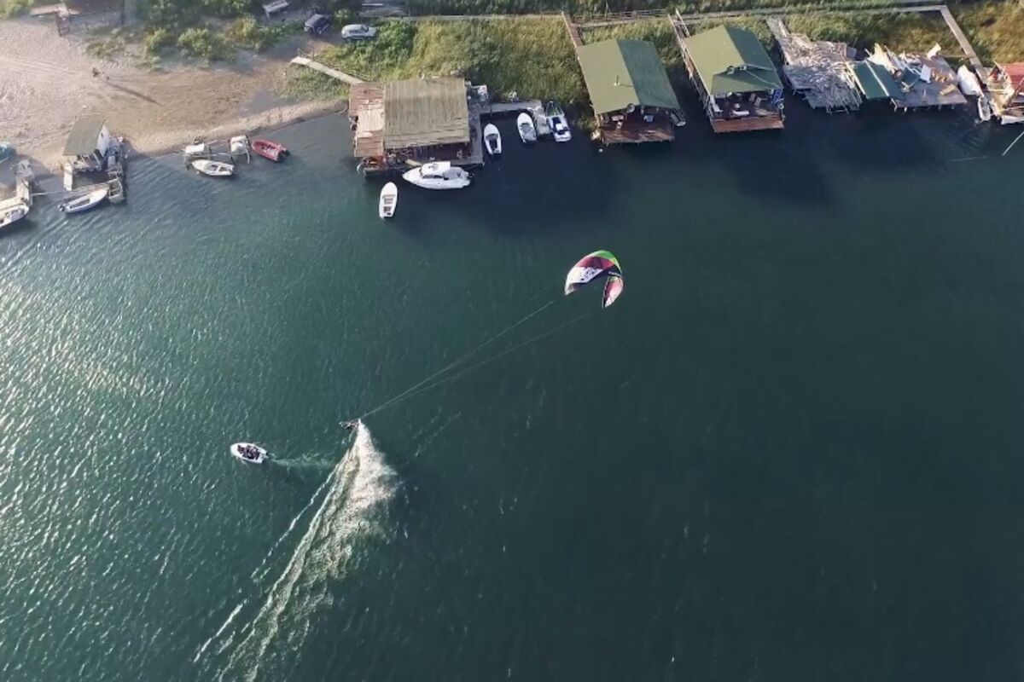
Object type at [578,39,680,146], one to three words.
house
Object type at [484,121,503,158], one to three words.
boat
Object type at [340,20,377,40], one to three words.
car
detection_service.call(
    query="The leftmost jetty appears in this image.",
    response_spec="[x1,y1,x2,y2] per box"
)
[13,176,32,205]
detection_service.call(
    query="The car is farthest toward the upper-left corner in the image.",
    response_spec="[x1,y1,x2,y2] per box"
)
[303,5,333,33]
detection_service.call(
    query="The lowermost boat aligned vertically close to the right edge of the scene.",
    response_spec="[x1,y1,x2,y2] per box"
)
[977,94,990,124]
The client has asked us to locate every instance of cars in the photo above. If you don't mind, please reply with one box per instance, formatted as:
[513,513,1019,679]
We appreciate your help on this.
[340,20,377,40]
[303,5,333,33]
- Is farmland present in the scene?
No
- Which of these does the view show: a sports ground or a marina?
marina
